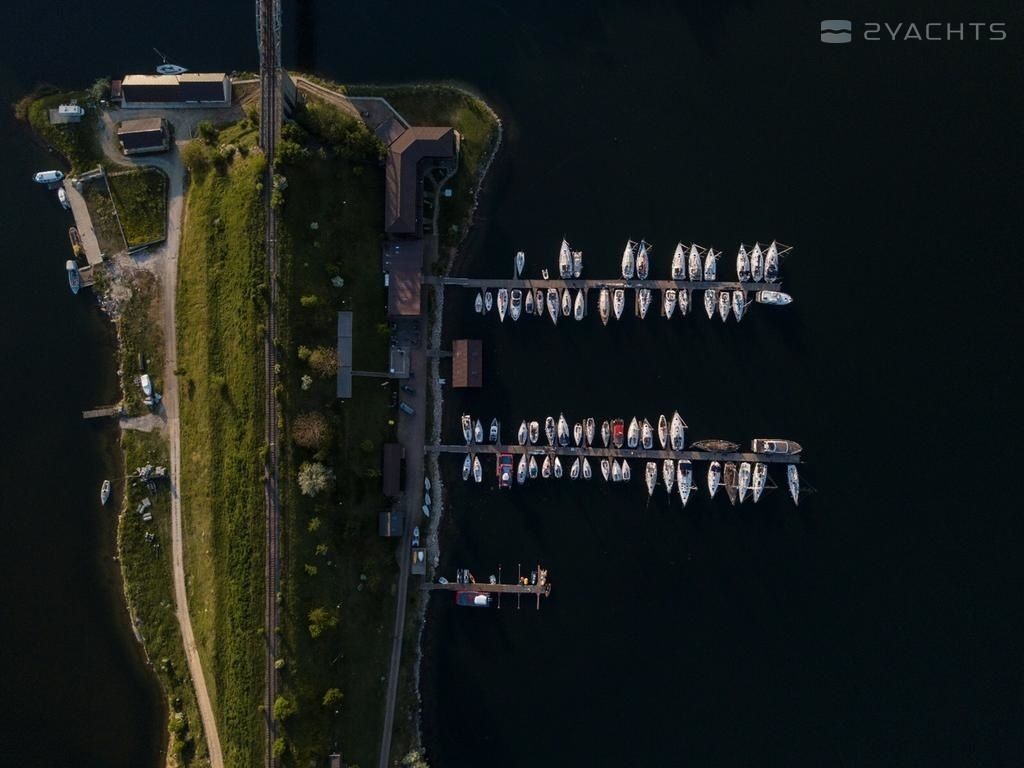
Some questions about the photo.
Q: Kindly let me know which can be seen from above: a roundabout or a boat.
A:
boat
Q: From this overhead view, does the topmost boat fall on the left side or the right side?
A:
left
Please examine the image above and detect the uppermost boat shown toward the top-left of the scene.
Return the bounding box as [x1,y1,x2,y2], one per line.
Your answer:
[157,54,191,74]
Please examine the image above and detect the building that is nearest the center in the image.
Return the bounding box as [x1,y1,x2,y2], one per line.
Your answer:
[452,339,483,387]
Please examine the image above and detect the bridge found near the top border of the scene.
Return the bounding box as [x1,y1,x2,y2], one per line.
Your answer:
[256,0,301,114]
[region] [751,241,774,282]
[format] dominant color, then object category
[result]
white boat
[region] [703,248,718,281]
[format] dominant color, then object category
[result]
white boat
